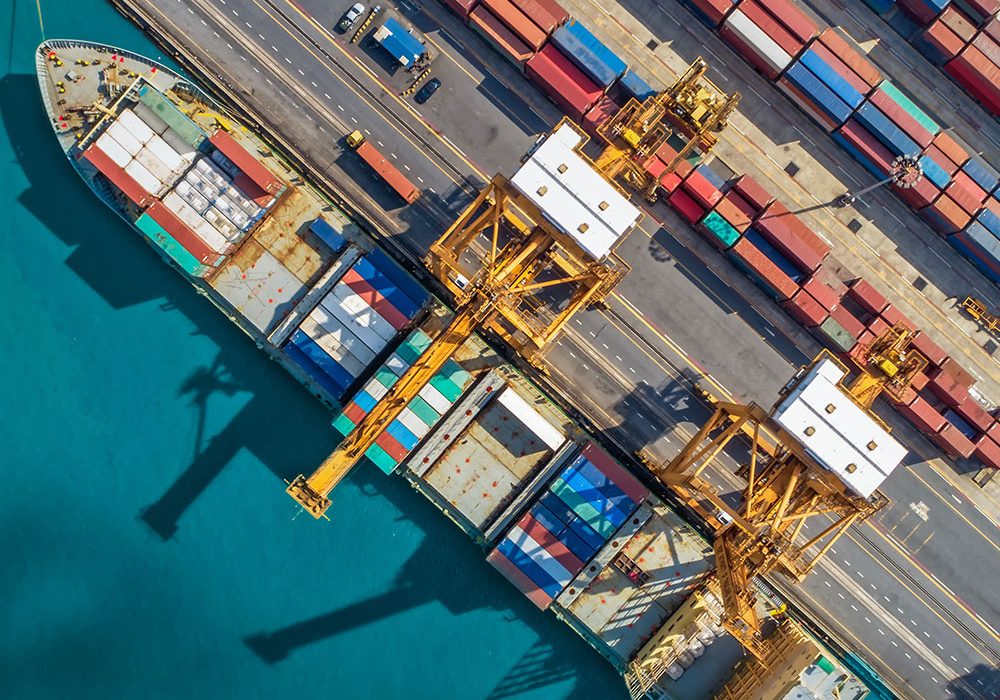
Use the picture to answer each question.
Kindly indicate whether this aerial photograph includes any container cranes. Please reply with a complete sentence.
Yes, I can see a container crane in this picture.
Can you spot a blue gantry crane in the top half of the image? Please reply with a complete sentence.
No, in the top half of the image there is no blue gantry crane.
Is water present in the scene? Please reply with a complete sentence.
Yes, some water is visible.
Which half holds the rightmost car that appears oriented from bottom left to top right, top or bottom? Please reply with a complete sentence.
The rightmost car that appears oriented from bottom left to top right is in the top half of the image.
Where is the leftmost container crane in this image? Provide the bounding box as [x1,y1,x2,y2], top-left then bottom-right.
[287,88,678,520]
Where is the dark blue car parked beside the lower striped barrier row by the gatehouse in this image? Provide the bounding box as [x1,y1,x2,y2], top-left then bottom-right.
[414,77,440,103]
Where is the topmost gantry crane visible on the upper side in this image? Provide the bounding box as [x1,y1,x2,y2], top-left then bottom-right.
[621,56,752,206]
